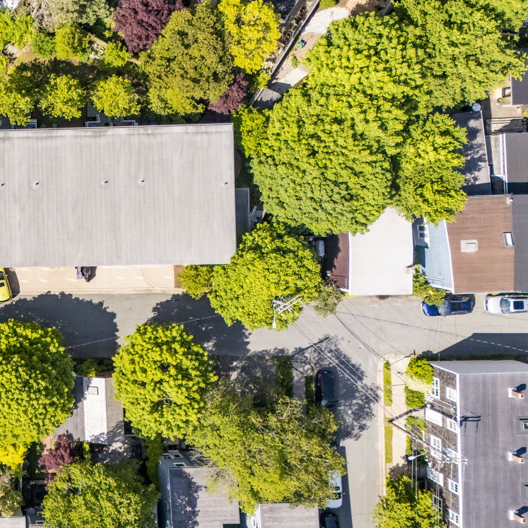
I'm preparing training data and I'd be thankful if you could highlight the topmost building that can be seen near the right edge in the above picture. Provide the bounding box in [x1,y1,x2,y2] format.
[484,73,528,108]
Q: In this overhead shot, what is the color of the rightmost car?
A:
white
